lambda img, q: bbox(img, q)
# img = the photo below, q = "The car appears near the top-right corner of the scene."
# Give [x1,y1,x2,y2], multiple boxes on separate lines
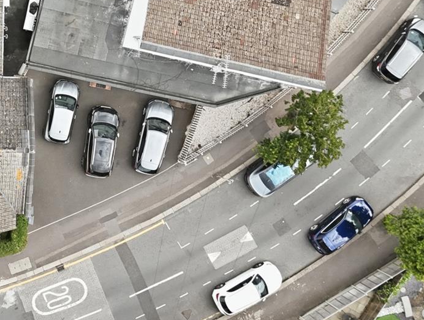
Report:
[371,18,424,85]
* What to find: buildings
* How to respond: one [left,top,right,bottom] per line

[24,0,331,108]
[0,0,37,230]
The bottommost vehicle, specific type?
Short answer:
car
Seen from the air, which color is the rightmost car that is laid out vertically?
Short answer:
white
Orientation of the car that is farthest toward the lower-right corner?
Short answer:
on a diagonal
